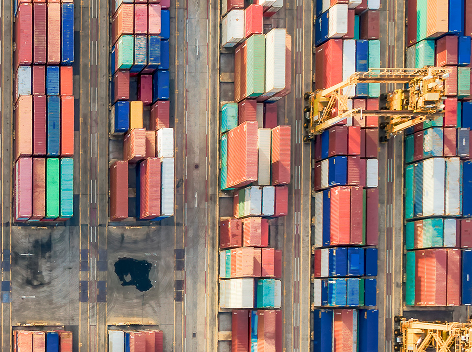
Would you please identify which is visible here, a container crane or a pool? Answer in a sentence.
Of the two, only a container crane appears.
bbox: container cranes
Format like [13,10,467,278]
[394,316,472,352]
[303,76,444,142]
